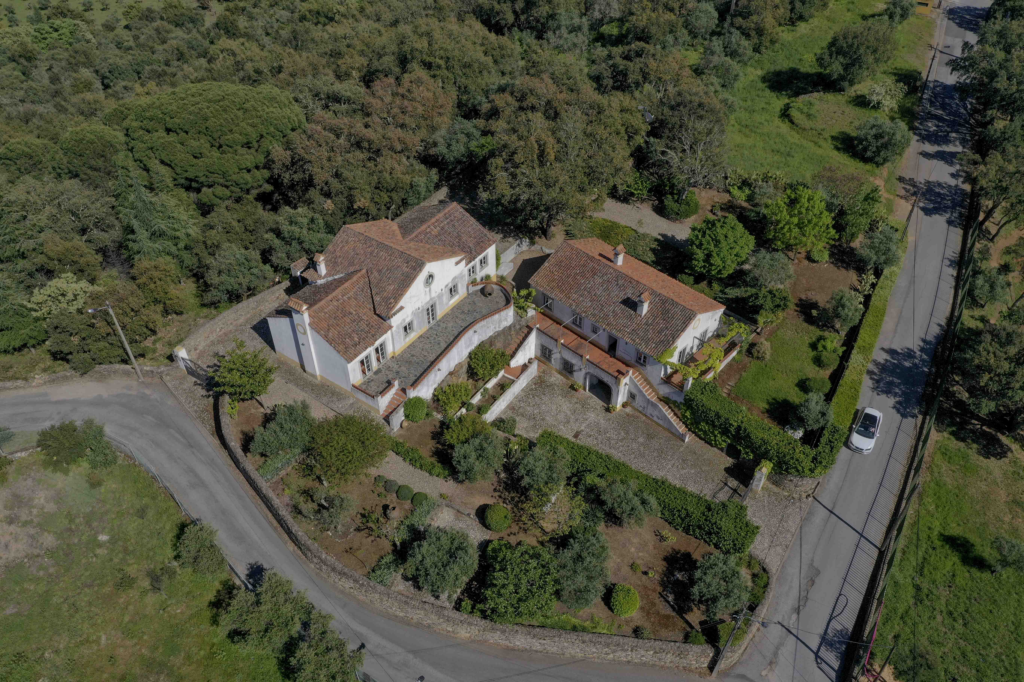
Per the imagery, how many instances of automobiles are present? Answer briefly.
1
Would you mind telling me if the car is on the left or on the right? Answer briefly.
right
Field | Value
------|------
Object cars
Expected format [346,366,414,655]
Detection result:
[850,405,882,454]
